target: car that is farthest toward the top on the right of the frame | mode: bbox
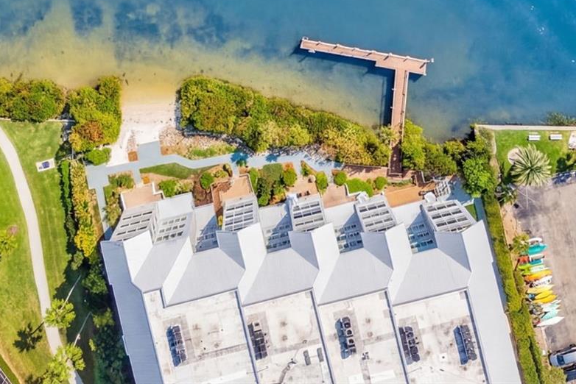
[548,345,576,367]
